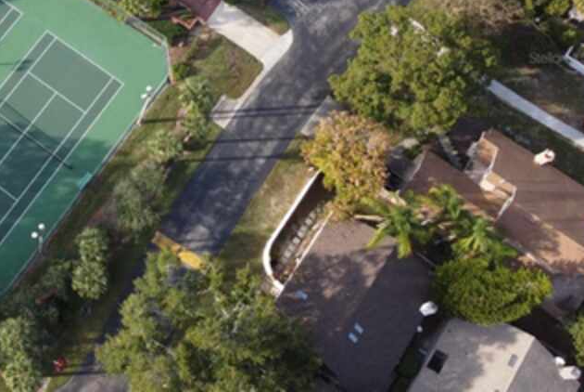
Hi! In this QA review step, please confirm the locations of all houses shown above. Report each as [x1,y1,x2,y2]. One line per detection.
[400,130,584,293]
[253,213,435,392]
[404,317,582,392]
